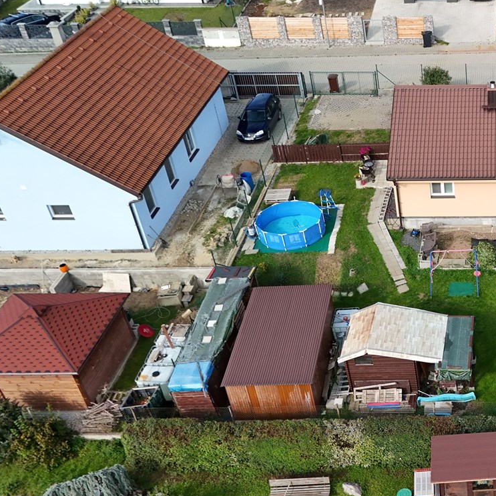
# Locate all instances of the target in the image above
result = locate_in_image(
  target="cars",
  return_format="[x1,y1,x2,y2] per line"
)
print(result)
[0,3,57,26]
[232,90,281,138]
